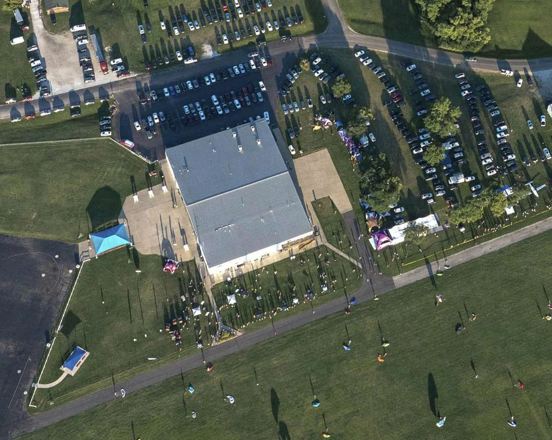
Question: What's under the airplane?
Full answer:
The airplane rests on the grass.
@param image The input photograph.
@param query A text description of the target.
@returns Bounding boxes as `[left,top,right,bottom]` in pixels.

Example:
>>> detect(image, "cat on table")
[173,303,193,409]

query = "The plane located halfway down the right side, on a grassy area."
[525,178,547,199]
